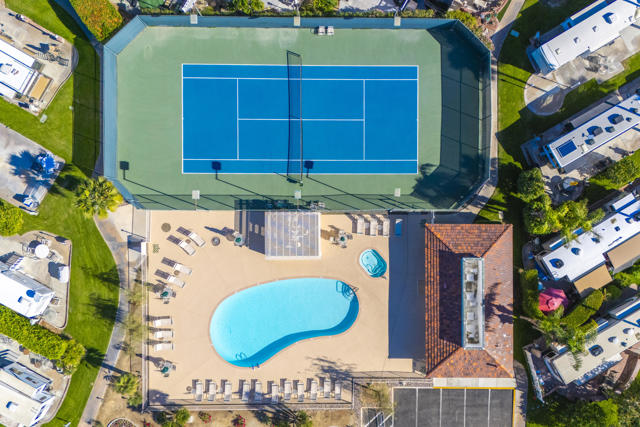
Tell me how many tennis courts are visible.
1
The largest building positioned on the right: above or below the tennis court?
below it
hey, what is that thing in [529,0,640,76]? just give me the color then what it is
white camper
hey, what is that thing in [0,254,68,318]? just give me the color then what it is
white trailer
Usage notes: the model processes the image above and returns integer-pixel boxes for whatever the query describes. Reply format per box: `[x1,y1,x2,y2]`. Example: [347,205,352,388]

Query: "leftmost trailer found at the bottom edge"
[0,354,59,426]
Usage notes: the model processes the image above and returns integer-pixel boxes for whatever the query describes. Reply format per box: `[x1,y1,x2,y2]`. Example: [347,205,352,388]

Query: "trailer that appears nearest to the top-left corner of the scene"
[0,36,51,101]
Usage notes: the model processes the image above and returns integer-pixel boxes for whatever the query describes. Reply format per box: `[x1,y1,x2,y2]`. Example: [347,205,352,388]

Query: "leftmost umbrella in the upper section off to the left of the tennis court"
[44,157,62,172]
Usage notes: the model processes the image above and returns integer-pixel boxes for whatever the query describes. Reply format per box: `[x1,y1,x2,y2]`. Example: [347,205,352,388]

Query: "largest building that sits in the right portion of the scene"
[424,223,514,379]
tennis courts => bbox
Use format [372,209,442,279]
[114,26,482,209]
